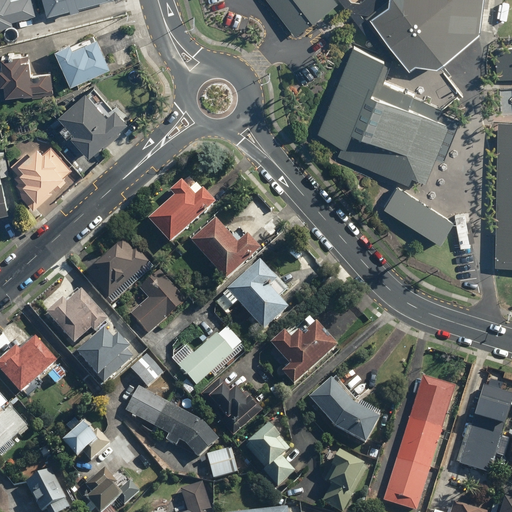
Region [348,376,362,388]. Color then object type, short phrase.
white vehicle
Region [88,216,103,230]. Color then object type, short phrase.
white vehicle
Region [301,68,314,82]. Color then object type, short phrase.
gray vehicle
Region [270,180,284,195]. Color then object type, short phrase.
white car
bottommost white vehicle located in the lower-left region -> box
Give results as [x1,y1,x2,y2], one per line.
[98,447,112,461]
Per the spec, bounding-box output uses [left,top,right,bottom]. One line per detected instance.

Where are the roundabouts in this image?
[196,78,238,118]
